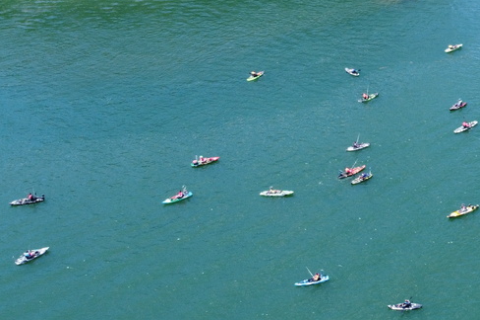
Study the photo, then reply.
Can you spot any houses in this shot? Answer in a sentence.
No, the photo shows no house.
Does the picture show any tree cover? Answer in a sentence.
No, the scene doesn't show any tree cover.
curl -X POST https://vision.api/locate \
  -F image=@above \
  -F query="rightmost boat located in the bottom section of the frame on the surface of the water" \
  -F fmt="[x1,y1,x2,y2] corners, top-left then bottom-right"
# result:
[448,204,479,217]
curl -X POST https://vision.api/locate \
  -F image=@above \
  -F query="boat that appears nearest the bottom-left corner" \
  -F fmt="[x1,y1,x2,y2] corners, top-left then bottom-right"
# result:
[14,246,47,265]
